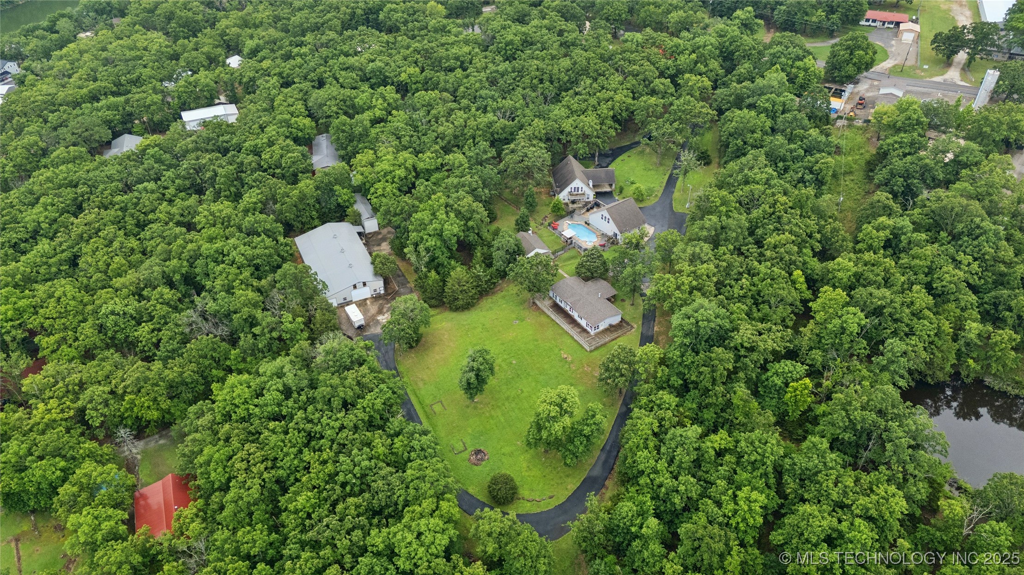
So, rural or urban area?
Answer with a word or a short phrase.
rural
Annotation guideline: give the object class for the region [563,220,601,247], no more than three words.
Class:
swimming pool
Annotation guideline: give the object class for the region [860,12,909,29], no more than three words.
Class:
house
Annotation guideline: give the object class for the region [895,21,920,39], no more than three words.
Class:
building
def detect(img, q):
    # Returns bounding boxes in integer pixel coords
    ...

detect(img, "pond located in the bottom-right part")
[891,374,1024,491]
